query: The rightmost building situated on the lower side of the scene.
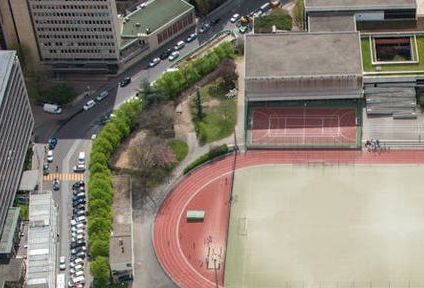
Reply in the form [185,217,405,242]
[110,175,134,273]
